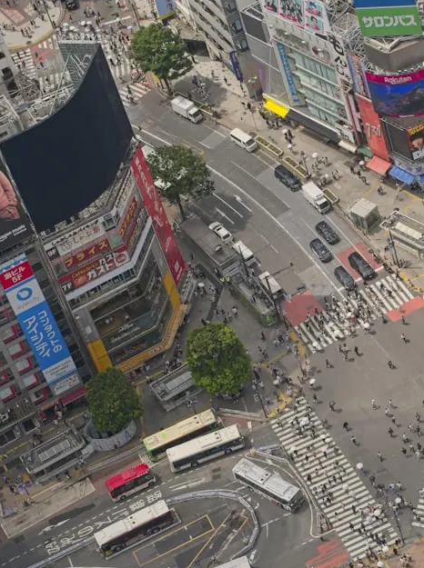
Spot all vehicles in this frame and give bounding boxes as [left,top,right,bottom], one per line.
[229,125,259,150]
[273,161,301,189]
[167,92,202,120]
[308,237,335,262]
[101,462,156,504]
[168,427,247,478]
[144,411,221,467]
[331,264,358,290]
[346,247,376,279]
[64,0,79,13]
[314,220,341,244]
[231,236,257,263]
[237,459,306,517]
[299,177,331,212]
[257,266,283,297]
[94,502,177,559]
[213,221,234,241]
